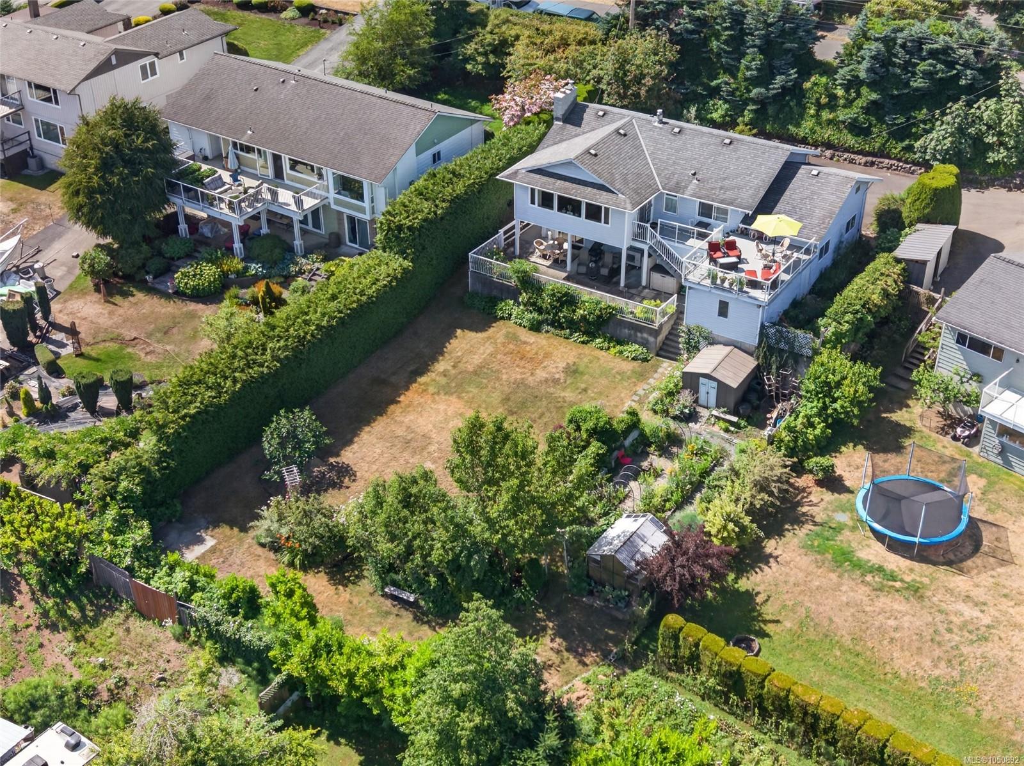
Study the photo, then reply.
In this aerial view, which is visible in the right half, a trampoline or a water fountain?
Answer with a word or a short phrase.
trampoline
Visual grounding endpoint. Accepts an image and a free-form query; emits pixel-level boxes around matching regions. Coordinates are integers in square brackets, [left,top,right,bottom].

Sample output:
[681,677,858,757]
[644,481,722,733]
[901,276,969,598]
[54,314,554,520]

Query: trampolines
[848,441,979,564]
